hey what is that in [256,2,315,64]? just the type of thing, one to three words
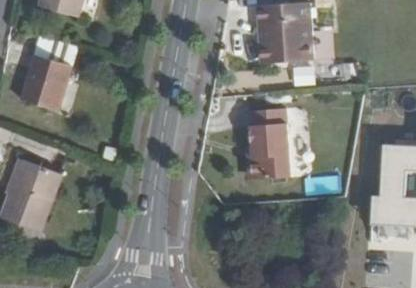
house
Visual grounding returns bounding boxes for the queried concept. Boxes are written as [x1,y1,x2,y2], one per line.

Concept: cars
[366,262,389,273]
[232,34,242,56]
[366,250,388,261]
[138,194,150,216]
[171,79,183,99]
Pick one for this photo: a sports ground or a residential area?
residential area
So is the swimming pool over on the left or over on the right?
right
